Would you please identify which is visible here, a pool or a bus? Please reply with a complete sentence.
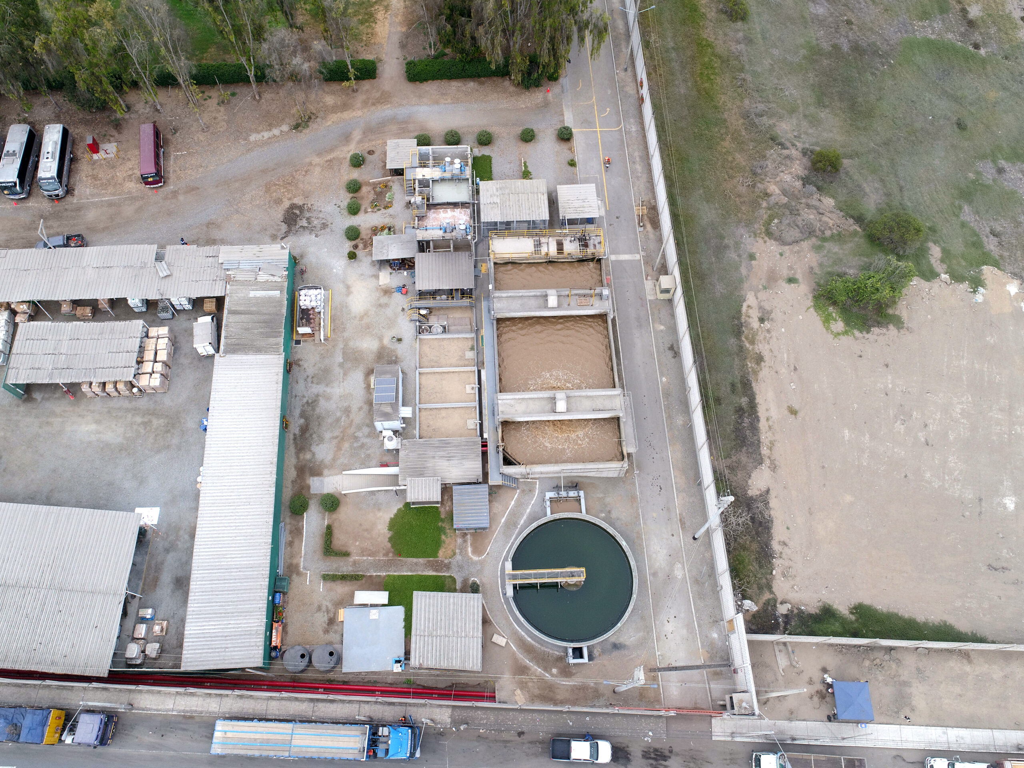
This aerial view contains a bus.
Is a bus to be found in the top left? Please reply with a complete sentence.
Yes, in the top left there is a bus.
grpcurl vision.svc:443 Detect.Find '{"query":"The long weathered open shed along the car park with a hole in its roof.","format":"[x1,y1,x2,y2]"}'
[0,244,227,320]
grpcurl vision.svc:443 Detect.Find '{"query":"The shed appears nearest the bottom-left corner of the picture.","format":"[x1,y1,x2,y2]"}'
[0,502,157,677]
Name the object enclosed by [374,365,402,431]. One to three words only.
building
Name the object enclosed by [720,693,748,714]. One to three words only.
building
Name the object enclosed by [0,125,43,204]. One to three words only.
bus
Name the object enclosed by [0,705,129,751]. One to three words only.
truck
